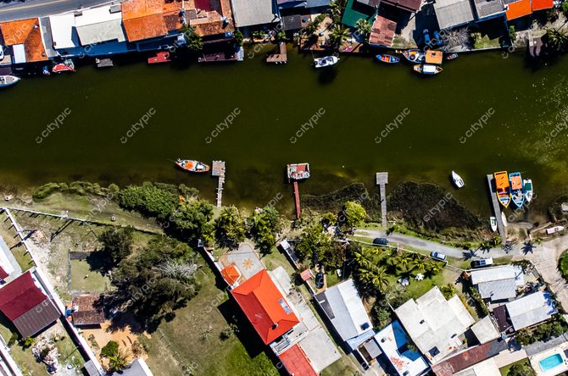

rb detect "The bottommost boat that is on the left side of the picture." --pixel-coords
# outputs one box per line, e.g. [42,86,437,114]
[176,160,212,173]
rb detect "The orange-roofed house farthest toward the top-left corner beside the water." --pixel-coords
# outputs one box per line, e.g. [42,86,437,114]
[0,18,54,71]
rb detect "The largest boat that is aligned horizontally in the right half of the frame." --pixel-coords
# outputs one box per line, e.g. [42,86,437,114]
[402,49,444,64]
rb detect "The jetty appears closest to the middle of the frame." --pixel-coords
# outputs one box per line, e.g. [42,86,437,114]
[288,163,309,217]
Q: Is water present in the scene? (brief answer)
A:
Yes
